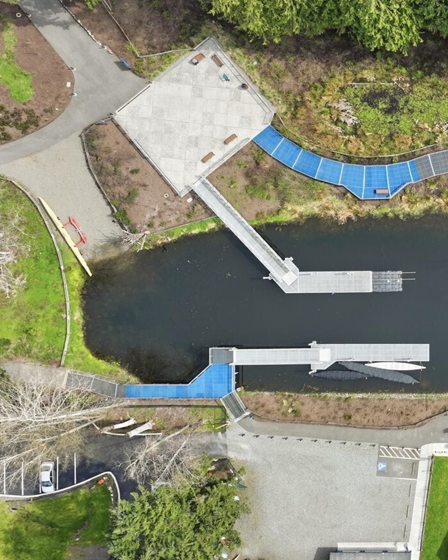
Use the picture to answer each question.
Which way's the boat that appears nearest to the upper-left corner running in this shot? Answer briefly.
diagonally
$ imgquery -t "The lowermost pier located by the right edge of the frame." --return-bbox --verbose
[310,343,429,369]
